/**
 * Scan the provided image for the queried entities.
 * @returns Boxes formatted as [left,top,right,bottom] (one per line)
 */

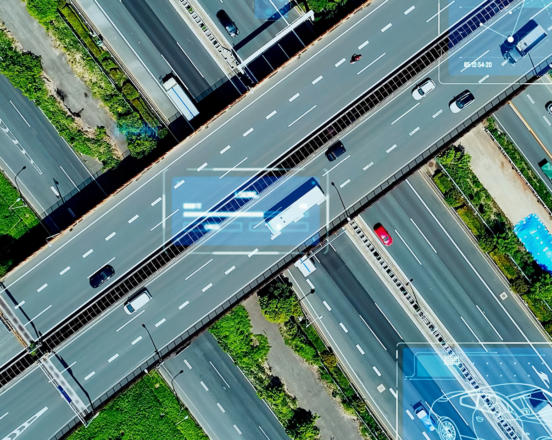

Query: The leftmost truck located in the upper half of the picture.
[162,73,205,122]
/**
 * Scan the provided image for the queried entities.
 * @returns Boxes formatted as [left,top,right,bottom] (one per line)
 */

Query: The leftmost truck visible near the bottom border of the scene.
[408,398,437,432]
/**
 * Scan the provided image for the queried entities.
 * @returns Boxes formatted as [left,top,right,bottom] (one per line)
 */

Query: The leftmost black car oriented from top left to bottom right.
[217,10,239,36]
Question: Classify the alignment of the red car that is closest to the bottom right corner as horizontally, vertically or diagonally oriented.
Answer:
diagonally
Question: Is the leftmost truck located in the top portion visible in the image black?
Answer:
No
